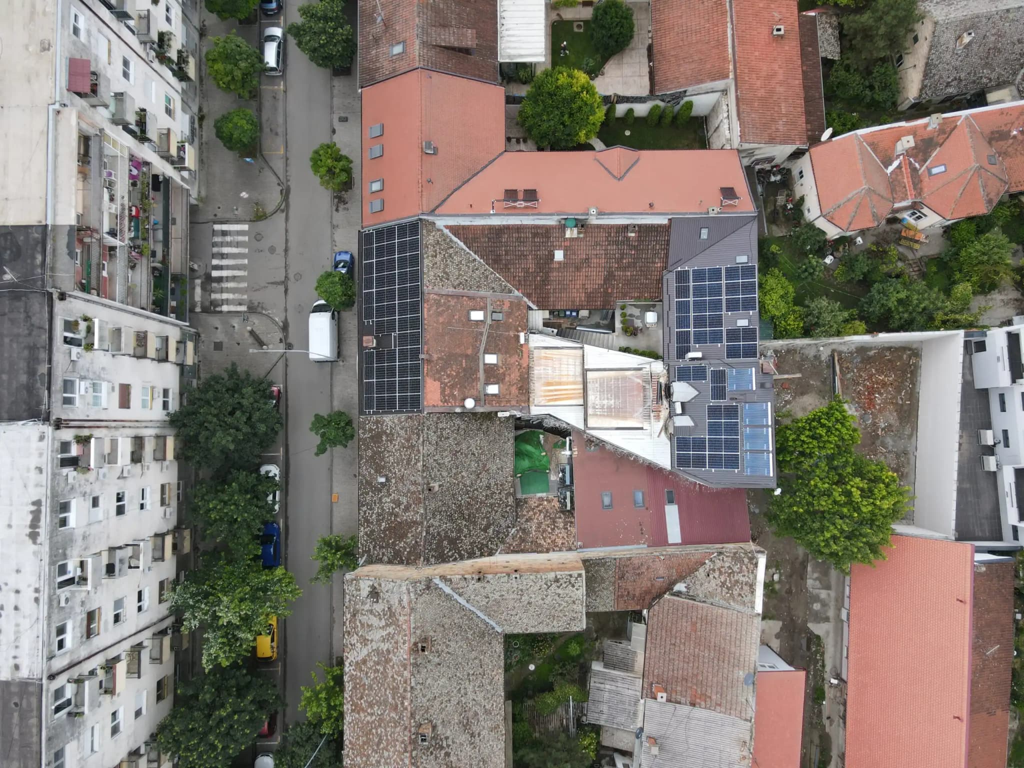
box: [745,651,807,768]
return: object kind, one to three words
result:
house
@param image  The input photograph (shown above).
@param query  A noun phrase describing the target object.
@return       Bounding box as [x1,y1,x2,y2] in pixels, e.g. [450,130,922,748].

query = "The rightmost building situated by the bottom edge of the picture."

[833,534,1013,768]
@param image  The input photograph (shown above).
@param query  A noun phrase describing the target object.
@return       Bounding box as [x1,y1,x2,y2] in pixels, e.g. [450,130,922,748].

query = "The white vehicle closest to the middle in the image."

[309,303,339,360]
